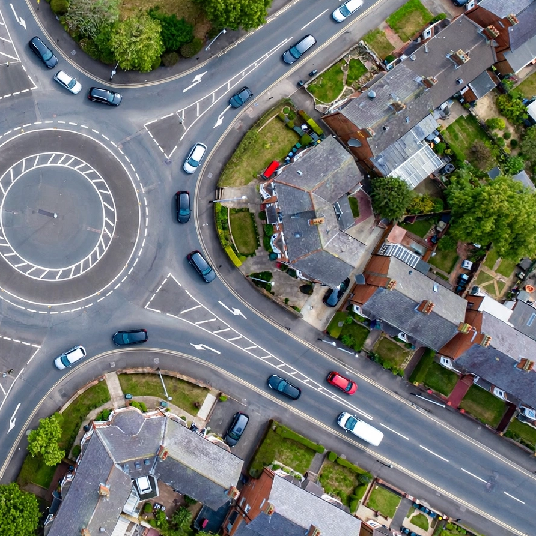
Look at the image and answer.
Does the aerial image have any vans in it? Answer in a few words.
Yes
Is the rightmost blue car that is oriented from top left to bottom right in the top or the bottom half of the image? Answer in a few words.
bottom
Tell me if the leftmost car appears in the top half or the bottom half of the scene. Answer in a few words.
top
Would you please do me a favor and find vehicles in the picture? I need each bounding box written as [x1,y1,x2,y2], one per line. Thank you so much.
[186,248,215,285]
[221,79,257,113]
[265,372,304,402]
[86,83,124,109]
[321,280,350,310]
[175,189,193,223]
[51,66,83,97]
[322,368,357,395]
[27,33,60,70]
[279,33,318,65]
[337,411,386,447]
[329,0,365,23]
[181,141,204,176]
[224,410,248,446]
[53,343,88,370]
[114,328,148,347]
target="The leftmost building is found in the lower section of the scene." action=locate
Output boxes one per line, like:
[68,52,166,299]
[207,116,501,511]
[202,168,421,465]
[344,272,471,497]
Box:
[42,401,242,536]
